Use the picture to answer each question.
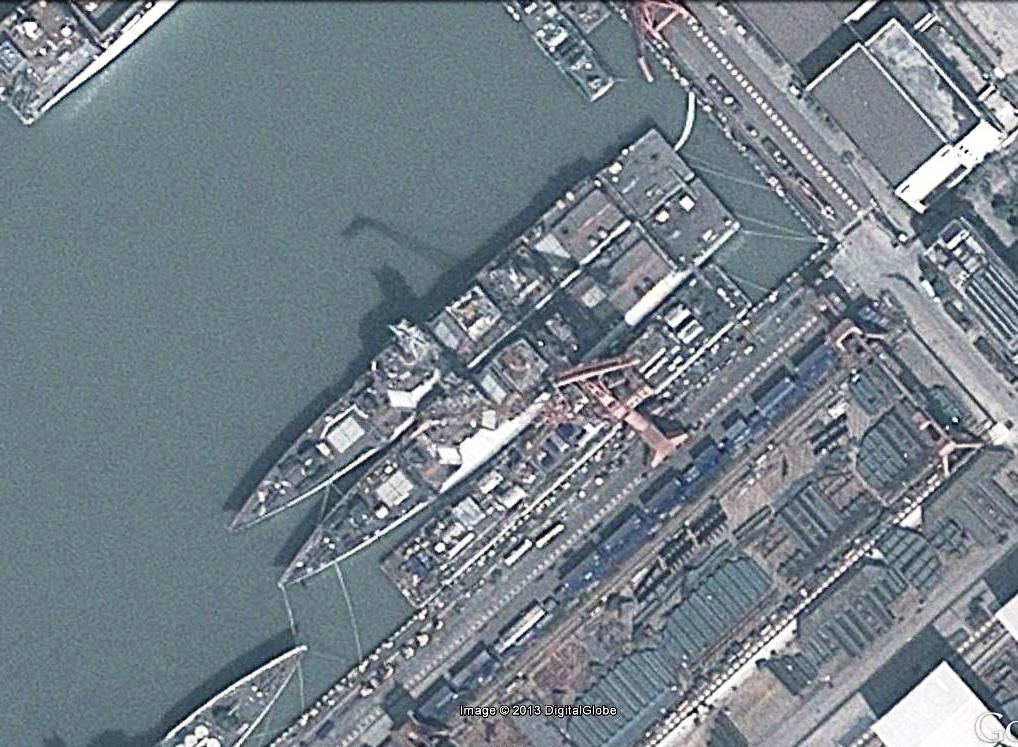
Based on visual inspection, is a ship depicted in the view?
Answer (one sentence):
Yes, a ship is visible in the scene.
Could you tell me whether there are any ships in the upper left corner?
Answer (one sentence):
Yes, looking in the upper left corner, one can make out a ship.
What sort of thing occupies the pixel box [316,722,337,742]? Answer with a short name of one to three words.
vehicle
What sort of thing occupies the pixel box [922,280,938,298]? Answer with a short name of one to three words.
vehicle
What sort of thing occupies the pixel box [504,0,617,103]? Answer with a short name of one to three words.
boat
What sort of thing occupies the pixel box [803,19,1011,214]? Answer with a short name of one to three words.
building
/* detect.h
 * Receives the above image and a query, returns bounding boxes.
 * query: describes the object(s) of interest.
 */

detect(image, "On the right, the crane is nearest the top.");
[621,0,688,82]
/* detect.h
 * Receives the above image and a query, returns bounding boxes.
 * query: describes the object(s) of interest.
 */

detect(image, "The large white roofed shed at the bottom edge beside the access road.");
[871,662,1018,747]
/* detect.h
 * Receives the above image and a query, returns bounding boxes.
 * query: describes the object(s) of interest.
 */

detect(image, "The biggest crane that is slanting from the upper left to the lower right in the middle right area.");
[835,324,990,473]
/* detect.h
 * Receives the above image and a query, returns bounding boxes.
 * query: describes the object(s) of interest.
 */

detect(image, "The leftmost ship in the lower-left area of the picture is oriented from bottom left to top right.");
[156,647,306,747]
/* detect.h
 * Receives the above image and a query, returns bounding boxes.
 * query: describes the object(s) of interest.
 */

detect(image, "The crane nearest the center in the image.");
[410,352,694,471]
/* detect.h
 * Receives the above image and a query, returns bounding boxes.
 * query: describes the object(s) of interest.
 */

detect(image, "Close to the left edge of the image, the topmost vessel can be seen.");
[0,0,197,122]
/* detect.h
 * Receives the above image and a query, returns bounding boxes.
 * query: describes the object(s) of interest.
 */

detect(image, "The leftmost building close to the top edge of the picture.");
[743,0,899,76]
